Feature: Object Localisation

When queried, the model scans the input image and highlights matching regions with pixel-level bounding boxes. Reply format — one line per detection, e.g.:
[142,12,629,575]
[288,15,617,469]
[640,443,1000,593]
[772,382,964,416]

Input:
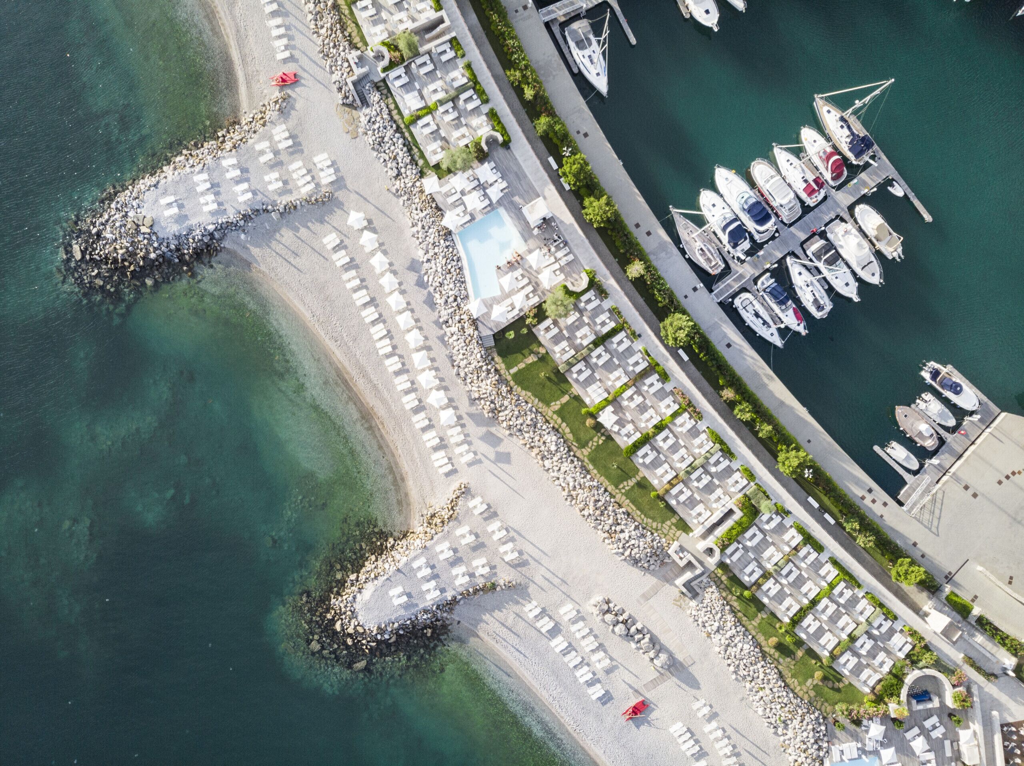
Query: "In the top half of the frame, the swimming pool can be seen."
[451,206,528,303]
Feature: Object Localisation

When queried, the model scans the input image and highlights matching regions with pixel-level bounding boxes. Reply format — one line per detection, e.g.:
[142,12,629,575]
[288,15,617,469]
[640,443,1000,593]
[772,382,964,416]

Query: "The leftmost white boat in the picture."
[568,8,614,100]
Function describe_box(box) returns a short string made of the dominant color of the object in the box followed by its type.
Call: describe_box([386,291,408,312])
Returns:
white umbrella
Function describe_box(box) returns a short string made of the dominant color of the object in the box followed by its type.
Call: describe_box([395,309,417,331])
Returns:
white umbrella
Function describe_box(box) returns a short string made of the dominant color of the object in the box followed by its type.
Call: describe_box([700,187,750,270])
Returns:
white boat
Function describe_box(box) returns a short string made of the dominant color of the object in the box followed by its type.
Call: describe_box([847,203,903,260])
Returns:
white boat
